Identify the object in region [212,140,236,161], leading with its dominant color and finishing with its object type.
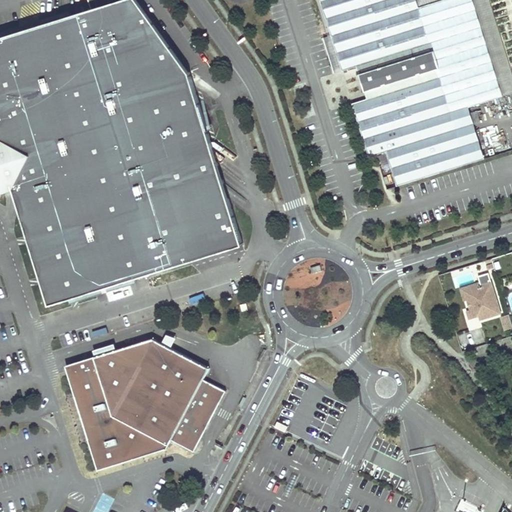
white vehicle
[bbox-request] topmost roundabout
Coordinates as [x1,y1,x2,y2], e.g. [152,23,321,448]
[263,236,374,348]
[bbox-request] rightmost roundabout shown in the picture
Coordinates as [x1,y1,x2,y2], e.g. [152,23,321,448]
[364,365,408,409]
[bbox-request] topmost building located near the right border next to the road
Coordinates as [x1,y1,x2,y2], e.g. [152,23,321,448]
[320,0,502,186]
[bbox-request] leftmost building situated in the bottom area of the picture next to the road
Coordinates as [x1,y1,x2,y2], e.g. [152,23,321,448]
[64,335,225,470]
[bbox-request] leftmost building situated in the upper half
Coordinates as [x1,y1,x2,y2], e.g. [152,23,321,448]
[0,0,243,307]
